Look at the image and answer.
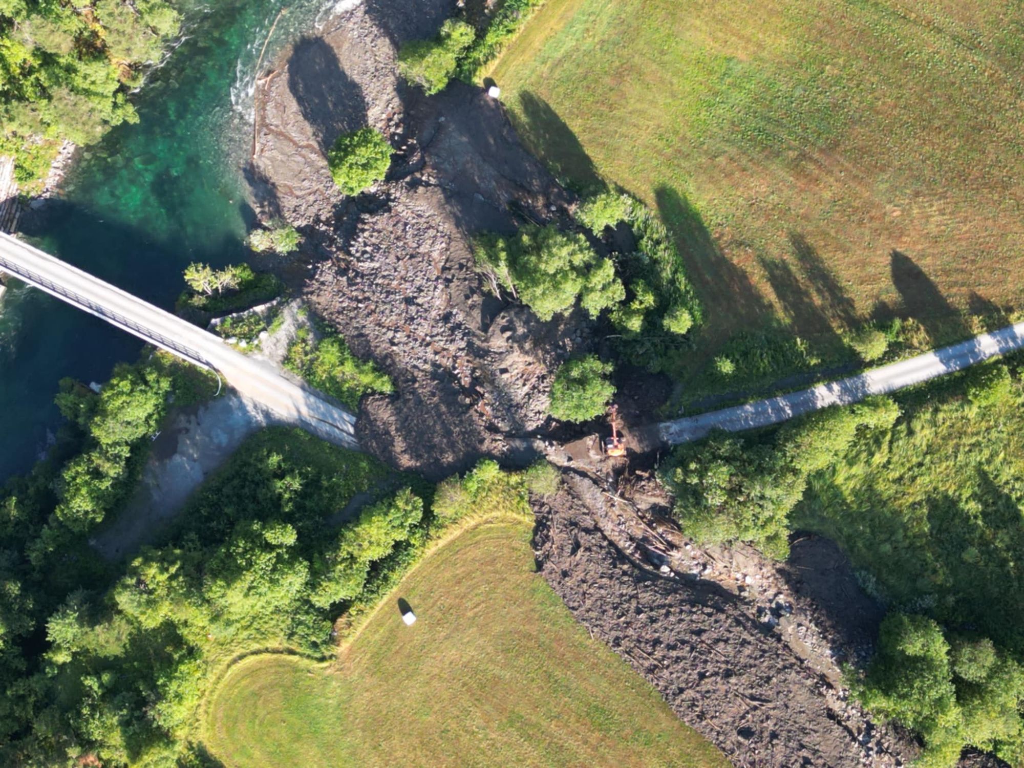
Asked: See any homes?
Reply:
No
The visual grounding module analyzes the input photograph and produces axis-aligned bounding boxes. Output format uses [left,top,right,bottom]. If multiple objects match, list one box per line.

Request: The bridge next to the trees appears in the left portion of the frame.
[0,228,234,371]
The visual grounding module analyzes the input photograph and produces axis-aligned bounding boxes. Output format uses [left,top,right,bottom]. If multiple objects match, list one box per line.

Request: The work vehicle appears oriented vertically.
[606,407,625,457]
